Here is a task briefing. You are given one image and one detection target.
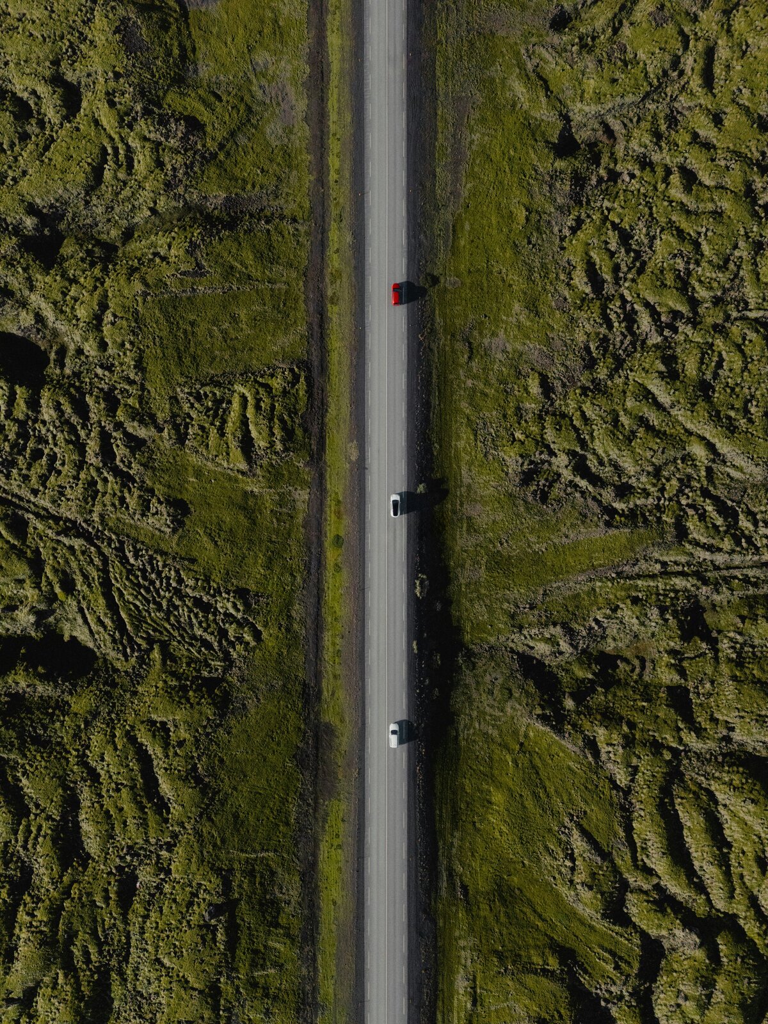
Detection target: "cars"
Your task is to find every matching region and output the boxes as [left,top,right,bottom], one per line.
[392,282,401,305]
[389,724,400,749]
[390,494,400,517]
